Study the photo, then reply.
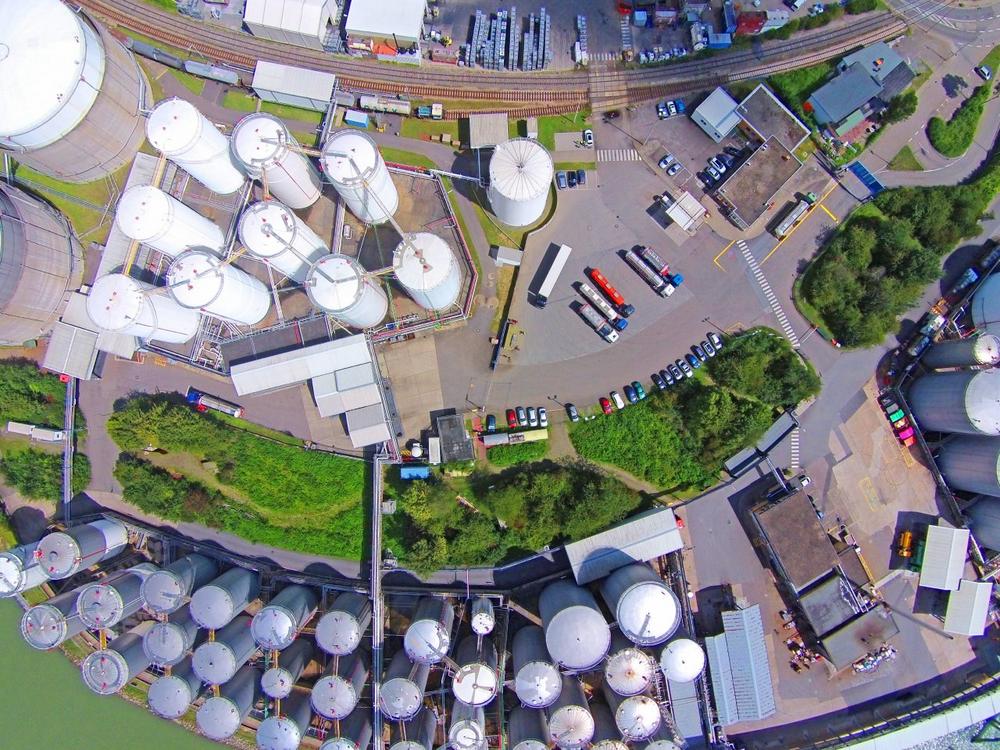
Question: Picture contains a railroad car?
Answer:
Yes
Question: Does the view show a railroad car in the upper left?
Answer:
Yes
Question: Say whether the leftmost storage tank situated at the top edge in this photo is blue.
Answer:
No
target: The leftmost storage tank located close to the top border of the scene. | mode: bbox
[0,0,151,180]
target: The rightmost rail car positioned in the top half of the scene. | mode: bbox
[418,104,443,119]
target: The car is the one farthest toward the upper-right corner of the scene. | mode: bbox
[975,64,991,82]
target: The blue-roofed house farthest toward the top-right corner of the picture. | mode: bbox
[802,41,915,141]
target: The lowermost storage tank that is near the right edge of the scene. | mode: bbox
[962,496,1000,551]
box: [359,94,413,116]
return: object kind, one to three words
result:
rail car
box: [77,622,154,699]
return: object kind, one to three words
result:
storage tank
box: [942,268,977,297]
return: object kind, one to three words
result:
truck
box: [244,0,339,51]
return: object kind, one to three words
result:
building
